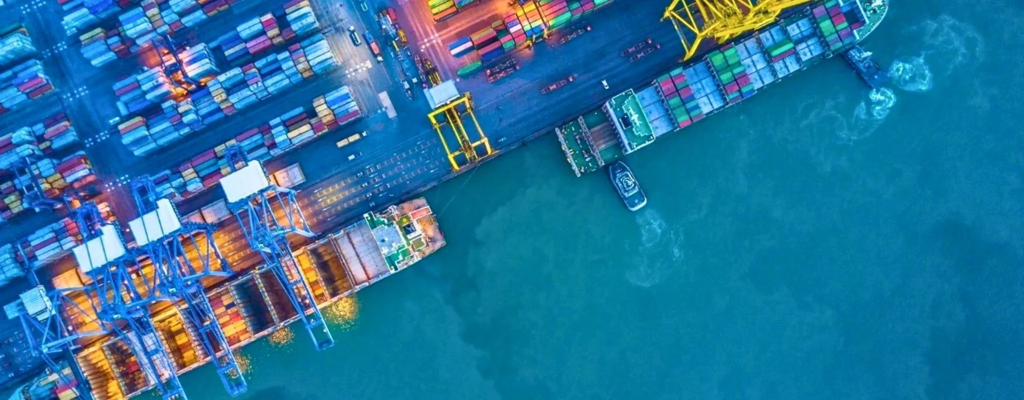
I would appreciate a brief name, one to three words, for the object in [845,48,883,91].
boat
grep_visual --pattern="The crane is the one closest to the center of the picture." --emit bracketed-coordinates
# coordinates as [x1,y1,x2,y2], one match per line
[420,65,498,172]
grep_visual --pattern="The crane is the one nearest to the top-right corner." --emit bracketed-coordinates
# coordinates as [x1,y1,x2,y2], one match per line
[728,0,829,42]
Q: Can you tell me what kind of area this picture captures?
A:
port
